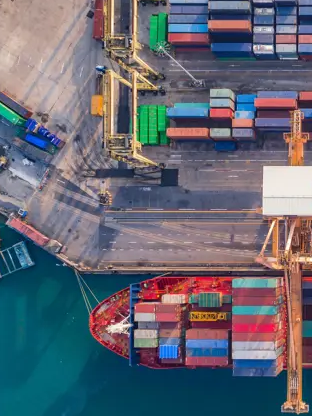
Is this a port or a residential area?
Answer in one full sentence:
This image shows a port.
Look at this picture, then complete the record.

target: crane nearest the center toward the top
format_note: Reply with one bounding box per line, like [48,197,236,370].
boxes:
[104,73,166,168]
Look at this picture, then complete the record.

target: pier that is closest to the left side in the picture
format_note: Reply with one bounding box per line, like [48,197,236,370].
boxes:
[0,241,38,282]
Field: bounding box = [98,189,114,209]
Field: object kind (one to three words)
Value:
work vehicle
